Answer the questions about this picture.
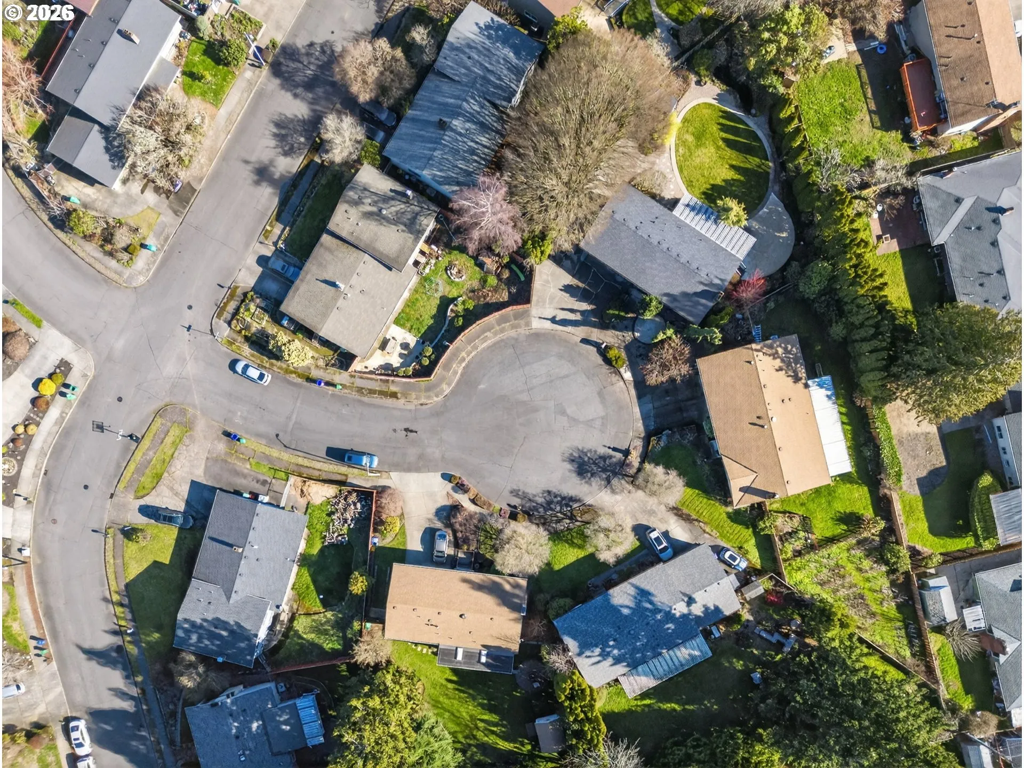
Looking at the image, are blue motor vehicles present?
Yes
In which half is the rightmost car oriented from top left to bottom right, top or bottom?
bottom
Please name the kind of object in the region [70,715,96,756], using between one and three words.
car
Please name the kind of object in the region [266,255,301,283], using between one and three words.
car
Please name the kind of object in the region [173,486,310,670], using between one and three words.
house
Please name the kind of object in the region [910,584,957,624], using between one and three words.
shed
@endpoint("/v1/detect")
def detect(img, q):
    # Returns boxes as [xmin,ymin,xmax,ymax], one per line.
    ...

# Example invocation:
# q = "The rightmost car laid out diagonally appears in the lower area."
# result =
[717,545,749,571]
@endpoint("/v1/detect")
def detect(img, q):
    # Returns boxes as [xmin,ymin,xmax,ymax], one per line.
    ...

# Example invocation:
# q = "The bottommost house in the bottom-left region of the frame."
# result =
[184,674,307,768]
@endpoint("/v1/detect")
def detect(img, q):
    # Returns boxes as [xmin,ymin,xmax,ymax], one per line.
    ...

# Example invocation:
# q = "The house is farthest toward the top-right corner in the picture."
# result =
[906,0,1024,136]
